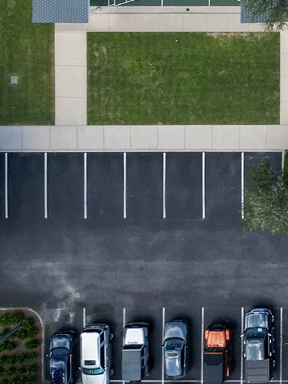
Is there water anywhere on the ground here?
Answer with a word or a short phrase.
No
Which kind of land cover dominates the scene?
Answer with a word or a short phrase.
paved ground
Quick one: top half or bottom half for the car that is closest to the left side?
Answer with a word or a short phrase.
bottom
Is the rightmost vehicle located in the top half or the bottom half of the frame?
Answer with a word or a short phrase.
bottom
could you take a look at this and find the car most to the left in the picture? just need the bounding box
[44,335,77,384]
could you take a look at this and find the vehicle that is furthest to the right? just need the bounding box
[239,314,273,384]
